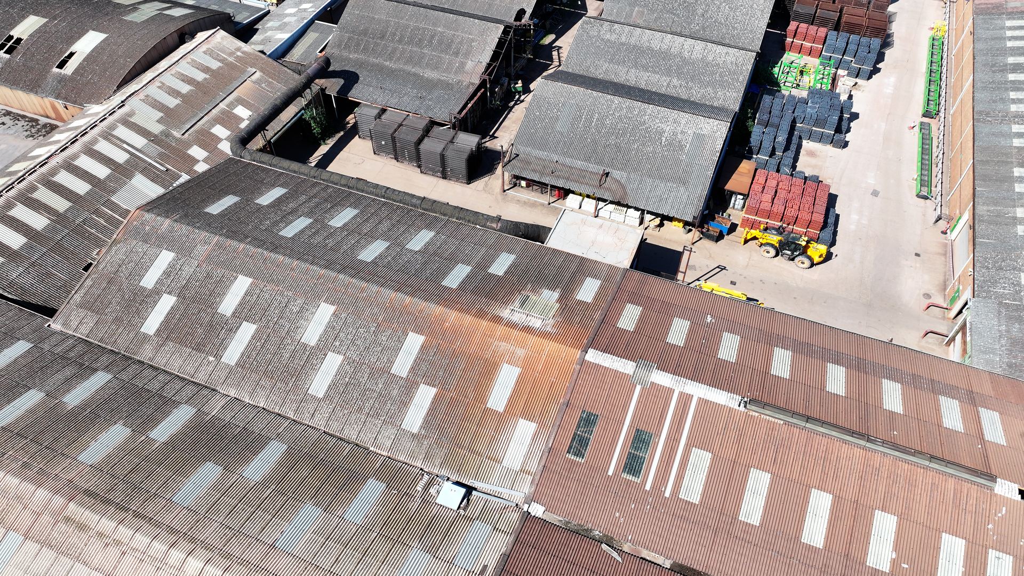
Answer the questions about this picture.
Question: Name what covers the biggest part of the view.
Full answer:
The scene is dominated by buildings.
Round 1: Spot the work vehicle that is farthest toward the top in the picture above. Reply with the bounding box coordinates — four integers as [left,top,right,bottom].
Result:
[736,221,832,268]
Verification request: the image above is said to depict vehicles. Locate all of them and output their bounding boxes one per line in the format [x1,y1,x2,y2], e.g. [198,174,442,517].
[694,283,769,307]
[736,221,832,268]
